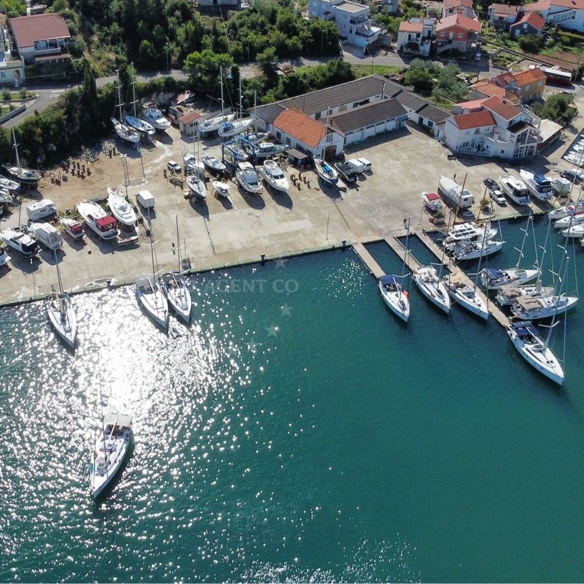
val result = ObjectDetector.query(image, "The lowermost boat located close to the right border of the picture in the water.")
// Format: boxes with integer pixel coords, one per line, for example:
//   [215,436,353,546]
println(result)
[507,273,565,381]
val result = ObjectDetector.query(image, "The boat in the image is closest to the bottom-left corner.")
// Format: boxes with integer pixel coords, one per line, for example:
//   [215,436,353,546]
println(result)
[91,356,136,497]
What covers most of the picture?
water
